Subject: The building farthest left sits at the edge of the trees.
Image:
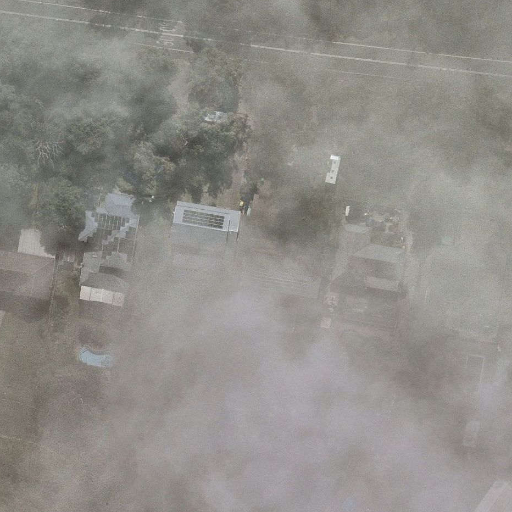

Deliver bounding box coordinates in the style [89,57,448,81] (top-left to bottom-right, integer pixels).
[0,229,59,300]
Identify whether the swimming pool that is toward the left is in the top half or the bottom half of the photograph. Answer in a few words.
bottom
